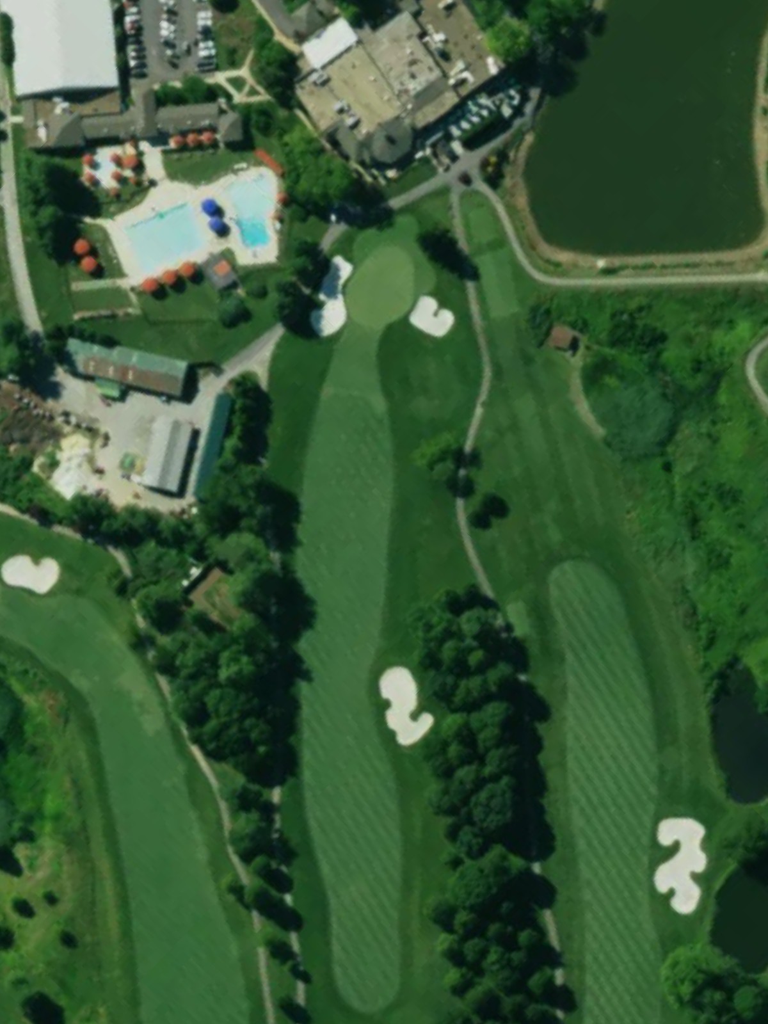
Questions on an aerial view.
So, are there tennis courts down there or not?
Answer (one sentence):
No, no tennis court can be seen from above.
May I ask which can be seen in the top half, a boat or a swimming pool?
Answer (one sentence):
There is a swimming pool in the top half.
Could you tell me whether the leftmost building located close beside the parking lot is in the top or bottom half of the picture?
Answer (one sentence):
The top half of the photo is where the leftmost building located close beside the parking lot is.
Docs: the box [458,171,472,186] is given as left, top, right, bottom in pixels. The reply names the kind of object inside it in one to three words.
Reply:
car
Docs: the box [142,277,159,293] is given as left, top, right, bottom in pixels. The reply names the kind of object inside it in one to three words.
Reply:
umbrella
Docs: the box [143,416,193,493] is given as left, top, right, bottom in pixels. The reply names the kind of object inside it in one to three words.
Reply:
shed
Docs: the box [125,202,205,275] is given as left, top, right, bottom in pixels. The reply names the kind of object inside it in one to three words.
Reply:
swimming pool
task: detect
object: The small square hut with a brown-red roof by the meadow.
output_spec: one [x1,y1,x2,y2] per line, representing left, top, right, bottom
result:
[547,325,578,352]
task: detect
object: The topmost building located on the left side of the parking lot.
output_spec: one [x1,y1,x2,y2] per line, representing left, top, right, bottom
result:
[7,0,118,95]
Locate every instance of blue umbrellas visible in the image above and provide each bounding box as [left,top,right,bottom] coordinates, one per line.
[202,198,218,215]
[209,218,225,233]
